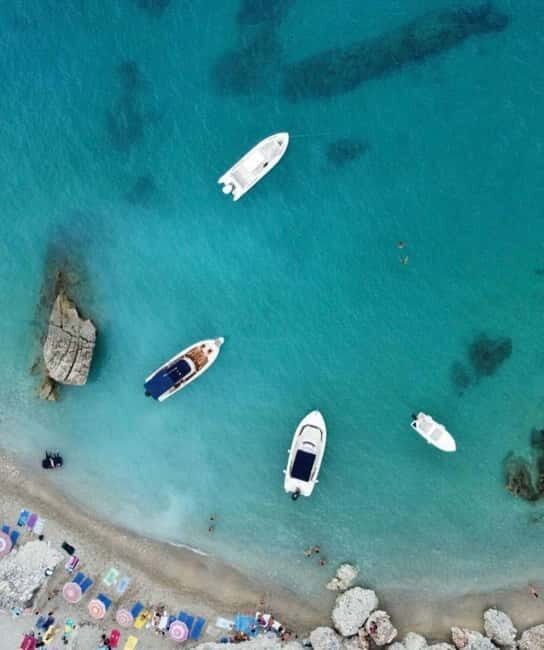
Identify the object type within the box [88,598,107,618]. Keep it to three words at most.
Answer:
umbrella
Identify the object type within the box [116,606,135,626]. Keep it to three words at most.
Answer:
umbrella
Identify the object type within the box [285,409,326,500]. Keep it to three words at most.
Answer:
boat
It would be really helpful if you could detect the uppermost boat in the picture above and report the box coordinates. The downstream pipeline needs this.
[218,130,303,200]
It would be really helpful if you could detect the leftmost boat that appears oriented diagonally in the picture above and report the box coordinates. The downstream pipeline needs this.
[142,339,223,403]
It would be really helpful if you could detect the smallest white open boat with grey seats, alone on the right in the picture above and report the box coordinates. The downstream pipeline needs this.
[411,412,458,453]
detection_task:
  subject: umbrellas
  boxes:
[88,598,107,618]
[0,532,13,555]
[169,618,190,640]
[116,606,135,626]
[62,581,83,602]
